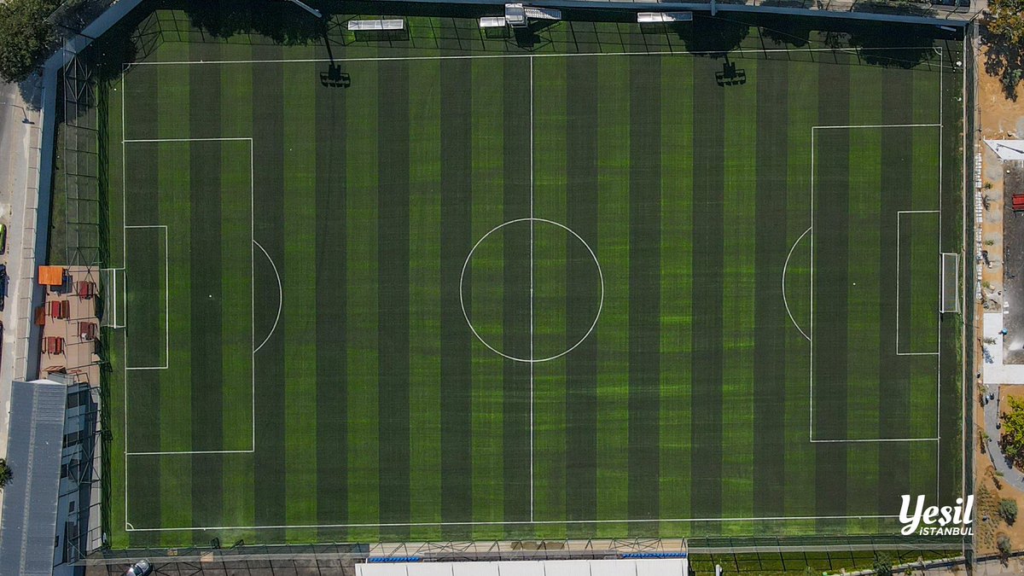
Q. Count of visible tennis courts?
none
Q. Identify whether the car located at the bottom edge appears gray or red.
gray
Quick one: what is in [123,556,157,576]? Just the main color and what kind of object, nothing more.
gray car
